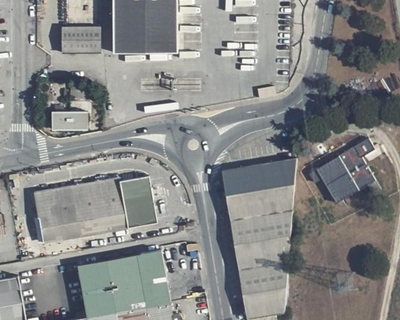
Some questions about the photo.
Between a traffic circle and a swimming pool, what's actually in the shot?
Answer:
traffic circle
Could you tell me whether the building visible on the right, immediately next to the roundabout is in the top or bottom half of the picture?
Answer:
bottom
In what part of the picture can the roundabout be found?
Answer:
center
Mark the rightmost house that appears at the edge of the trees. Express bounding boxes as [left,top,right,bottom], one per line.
[316,136,380,203]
